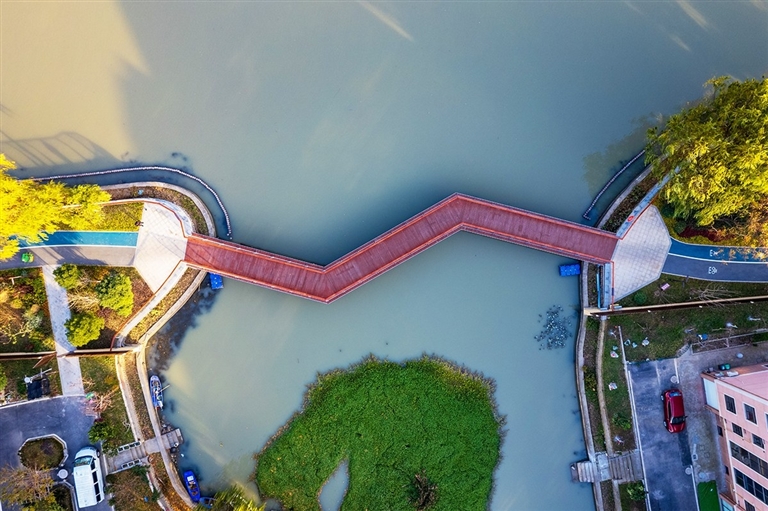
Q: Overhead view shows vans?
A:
Yes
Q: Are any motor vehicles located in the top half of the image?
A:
No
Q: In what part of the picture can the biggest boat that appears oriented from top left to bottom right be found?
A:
bottom left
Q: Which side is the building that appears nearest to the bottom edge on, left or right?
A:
right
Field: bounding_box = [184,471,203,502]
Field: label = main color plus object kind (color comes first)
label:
blue boat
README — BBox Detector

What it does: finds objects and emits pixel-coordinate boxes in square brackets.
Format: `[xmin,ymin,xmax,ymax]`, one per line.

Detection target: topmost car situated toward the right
[662,389,690,433]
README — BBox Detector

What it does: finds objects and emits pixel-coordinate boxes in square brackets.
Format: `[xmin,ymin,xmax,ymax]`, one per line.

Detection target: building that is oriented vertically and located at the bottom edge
[698,362,768,511]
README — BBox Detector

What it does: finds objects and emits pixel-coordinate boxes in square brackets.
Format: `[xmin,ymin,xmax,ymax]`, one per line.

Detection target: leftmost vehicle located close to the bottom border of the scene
[72,446,106,509]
